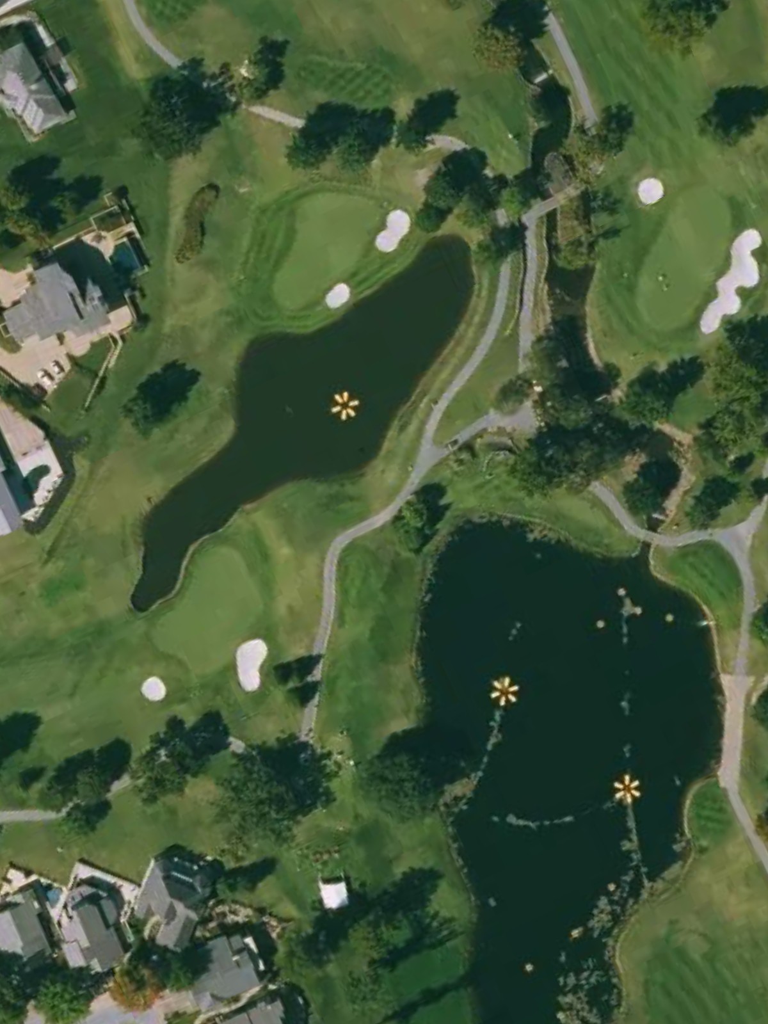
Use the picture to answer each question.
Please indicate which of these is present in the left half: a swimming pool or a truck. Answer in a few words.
swimming pool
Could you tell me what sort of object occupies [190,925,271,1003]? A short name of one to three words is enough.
house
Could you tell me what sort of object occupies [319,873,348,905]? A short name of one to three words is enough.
tent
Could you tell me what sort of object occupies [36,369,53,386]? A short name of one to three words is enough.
car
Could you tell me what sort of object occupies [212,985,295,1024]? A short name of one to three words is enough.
house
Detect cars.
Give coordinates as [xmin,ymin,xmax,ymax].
[49,360,64,376]
[36,369,53,386]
